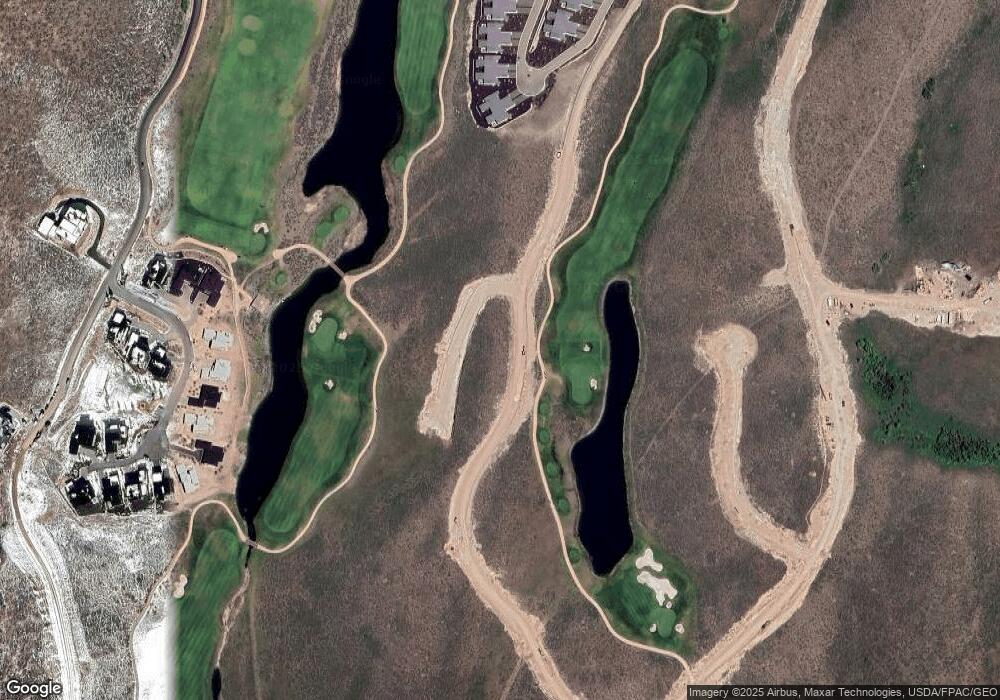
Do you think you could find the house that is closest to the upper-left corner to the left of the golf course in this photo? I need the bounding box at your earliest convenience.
[36,206,86,250]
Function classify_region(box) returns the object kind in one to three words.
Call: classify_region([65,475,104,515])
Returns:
house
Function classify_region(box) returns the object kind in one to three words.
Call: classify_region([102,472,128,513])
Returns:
house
